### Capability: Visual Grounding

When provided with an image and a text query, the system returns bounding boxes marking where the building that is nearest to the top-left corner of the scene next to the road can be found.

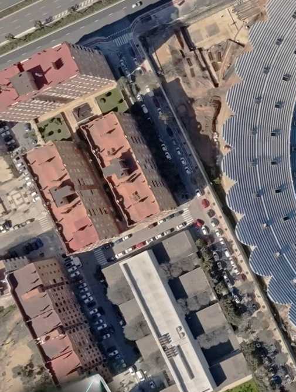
[0,42,111,130]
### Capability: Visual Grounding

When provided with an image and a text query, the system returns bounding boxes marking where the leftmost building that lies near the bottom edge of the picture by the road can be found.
[6,257,111,392]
